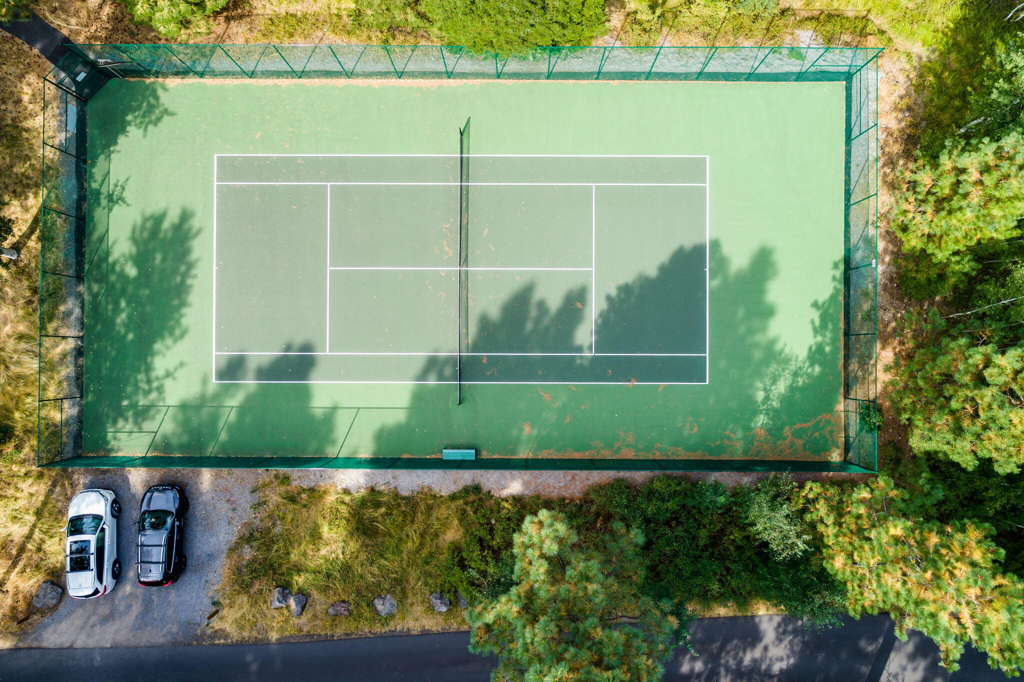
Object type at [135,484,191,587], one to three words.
car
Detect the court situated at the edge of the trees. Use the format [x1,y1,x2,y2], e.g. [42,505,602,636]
[74,71,853,469]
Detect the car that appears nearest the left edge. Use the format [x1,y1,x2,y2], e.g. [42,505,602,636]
[66,490,123,597]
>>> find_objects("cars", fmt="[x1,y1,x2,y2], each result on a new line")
[66,490,123,597]
[135,484,191,587]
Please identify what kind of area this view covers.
sports ground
